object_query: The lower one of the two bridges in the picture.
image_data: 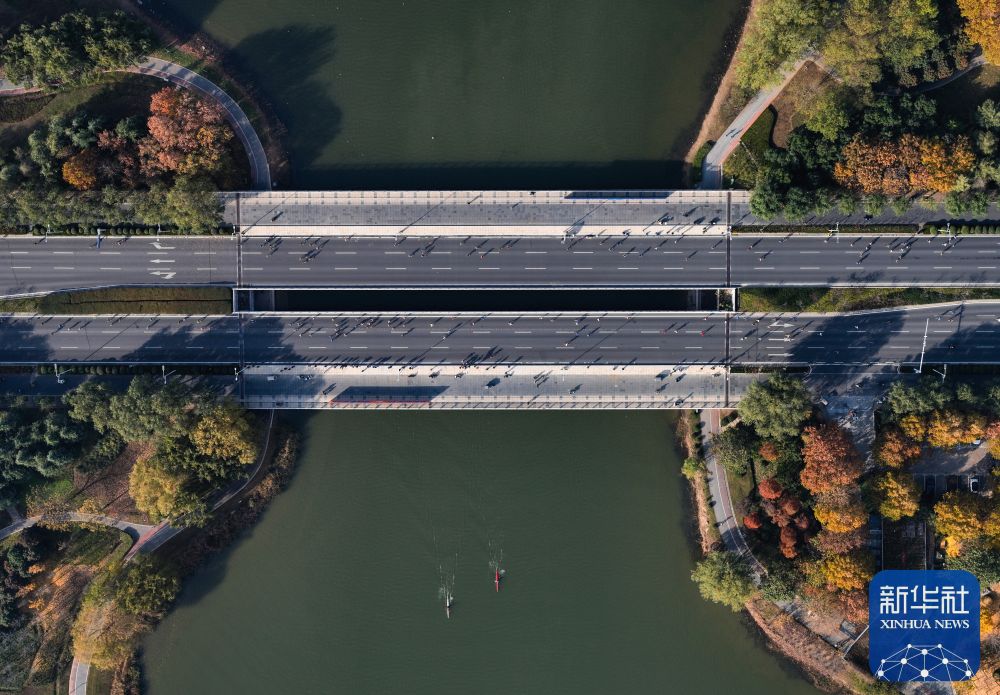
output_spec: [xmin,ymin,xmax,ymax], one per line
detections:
[233,309,739,411]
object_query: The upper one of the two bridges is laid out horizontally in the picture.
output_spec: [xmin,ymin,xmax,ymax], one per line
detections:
[233,190,751,291]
